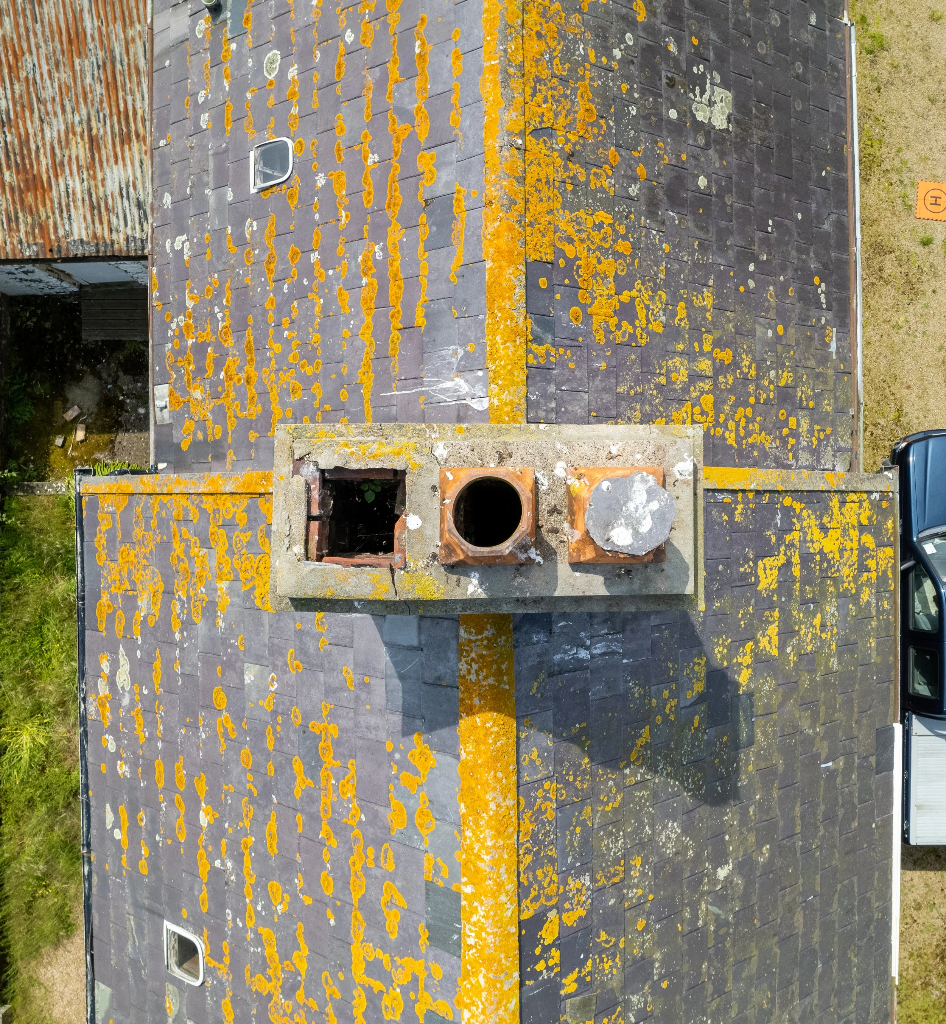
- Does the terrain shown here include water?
No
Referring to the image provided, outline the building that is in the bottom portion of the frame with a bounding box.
[75,465,902,1024]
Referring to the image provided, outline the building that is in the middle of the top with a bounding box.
[106,0,868,477]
